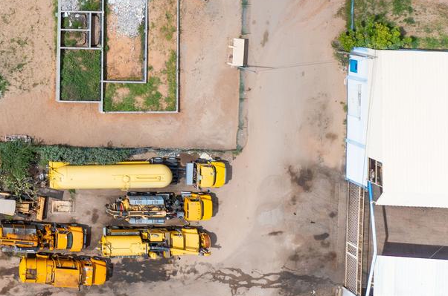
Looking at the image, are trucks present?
Yes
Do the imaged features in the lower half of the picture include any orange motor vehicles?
Yes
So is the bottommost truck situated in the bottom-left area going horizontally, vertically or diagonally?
horizontally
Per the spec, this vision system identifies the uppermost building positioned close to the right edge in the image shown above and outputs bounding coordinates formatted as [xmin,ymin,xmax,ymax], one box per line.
[360,49,448,209]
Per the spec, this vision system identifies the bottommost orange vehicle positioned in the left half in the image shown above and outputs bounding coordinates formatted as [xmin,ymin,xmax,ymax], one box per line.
[19,253,105,293]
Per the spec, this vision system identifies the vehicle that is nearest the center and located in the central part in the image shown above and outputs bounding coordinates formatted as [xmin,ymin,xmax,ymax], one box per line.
[145,158,226,193]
